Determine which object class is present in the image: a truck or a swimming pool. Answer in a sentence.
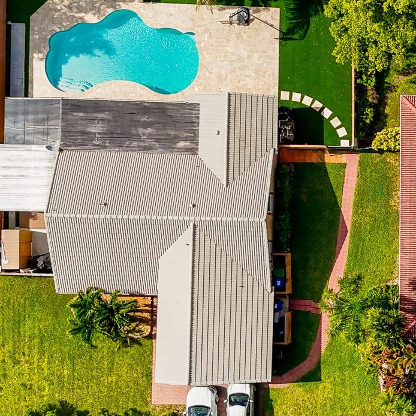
This aerial view contains a swimming pool.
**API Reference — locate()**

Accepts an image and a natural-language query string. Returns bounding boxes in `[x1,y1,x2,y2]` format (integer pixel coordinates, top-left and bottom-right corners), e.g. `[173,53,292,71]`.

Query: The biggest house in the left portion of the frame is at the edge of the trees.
[5,91,277,387]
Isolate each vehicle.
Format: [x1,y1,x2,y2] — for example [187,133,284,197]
[219,384,254,416]
[181,387,217,416]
